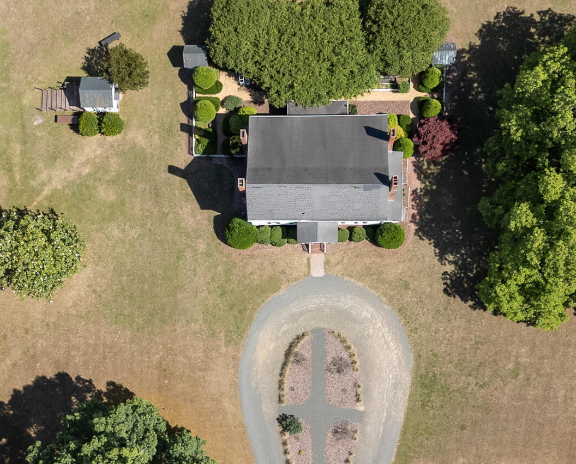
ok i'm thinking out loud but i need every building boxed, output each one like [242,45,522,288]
[183,46,209,72]
[77,78,118,111]
[238,100,404,255]
[431,43,457,70]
